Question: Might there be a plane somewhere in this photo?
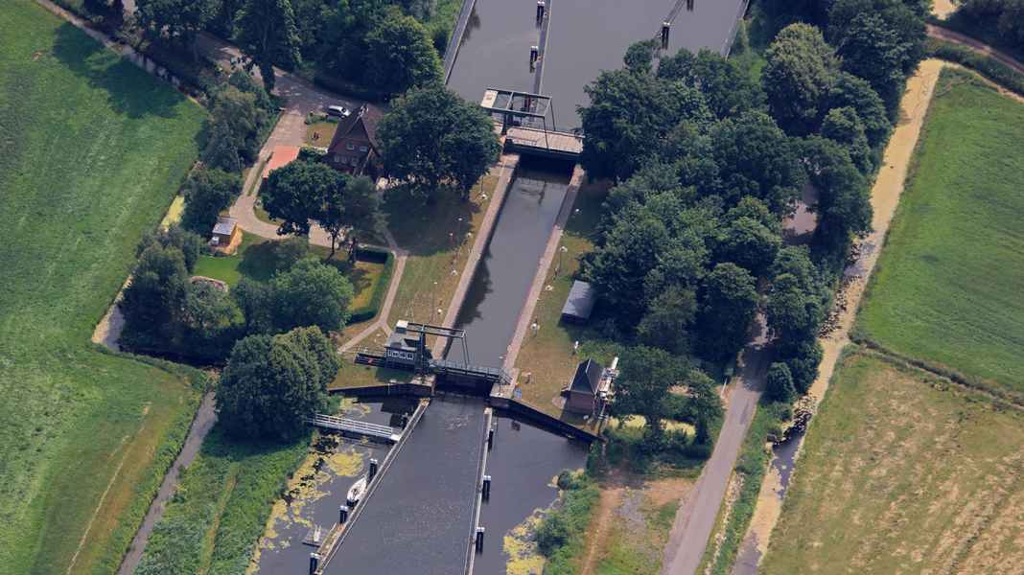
No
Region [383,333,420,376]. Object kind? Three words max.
shed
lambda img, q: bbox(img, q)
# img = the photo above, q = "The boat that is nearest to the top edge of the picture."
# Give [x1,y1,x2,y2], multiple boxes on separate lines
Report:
[348,472,367,503]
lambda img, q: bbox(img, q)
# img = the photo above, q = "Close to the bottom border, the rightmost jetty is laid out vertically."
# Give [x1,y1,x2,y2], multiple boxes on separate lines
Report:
[462,405,495,575]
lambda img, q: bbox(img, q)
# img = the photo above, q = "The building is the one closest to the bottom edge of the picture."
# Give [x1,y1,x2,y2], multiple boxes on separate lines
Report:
[559,356,605,408]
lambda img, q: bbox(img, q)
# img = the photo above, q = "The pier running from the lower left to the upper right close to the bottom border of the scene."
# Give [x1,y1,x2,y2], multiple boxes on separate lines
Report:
[313,396,434,575]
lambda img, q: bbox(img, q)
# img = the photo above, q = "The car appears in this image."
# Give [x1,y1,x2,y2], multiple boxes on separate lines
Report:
[325,103,349,118]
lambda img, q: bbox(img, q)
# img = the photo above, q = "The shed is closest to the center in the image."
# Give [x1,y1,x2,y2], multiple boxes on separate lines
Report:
[563,282,595,330]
